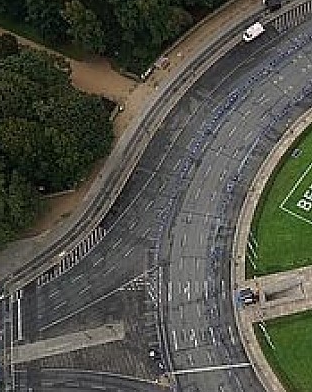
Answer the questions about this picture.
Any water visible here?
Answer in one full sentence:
No, the scene doesn't show any water.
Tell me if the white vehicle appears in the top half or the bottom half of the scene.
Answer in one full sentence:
The white vehicle sits in the top half of the picture.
